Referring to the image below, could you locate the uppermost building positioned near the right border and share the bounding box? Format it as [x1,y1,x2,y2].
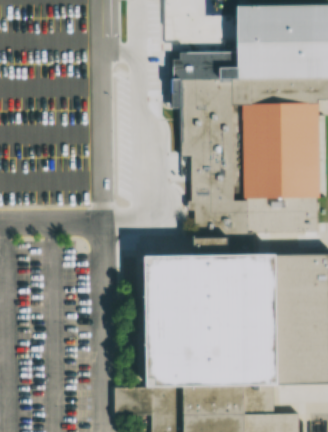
[237,4,328,78]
